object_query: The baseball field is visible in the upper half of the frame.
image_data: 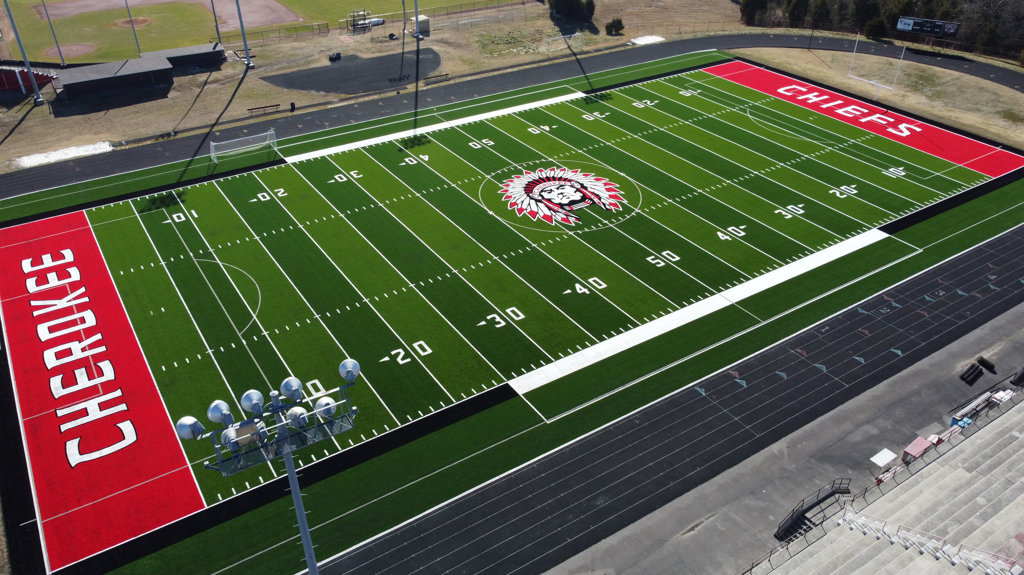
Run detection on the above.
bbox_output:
[0,0,543,62]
